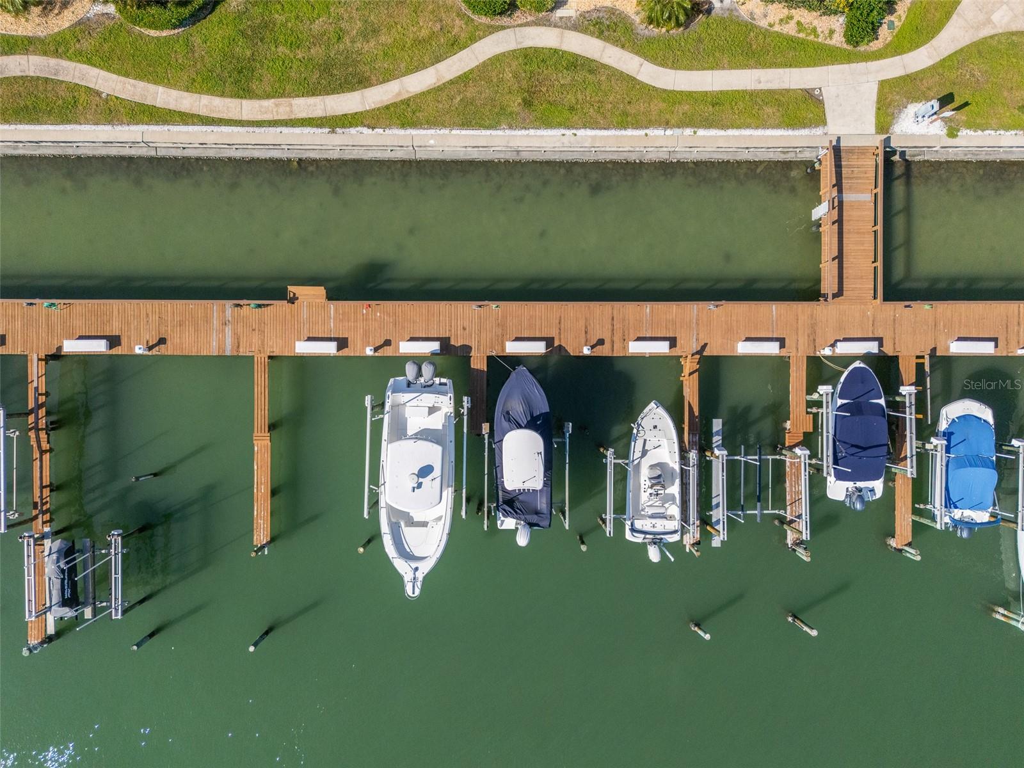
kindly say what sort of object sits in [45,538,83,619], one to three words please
vessel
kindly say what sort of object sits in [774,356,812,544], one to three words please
pier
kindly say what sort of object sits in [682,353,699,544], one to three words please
pier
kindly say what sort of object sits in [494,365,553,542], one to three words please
boat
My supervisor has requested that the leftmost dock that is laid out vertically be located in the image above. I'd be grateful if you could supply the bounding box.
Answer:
[28,353,65,643]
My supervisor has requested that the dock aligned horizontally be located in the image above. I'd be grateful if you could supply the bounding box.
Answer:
[0,299,1024,356]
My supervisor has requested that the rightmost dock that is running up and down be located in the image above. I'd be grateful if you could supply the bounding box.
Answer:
[877,354,932,547]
